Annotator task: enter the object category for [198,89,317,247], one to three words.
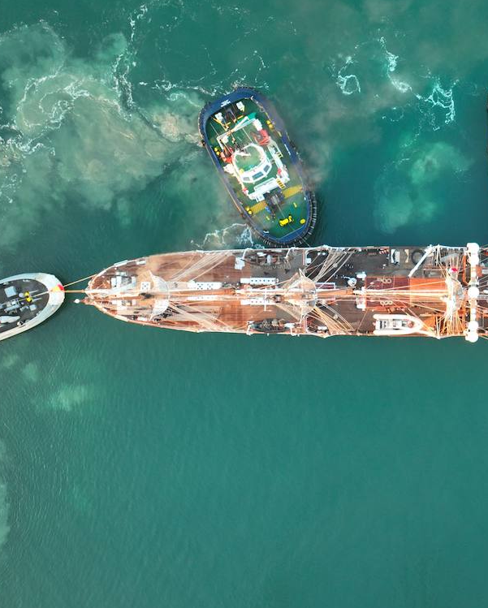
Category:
boat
